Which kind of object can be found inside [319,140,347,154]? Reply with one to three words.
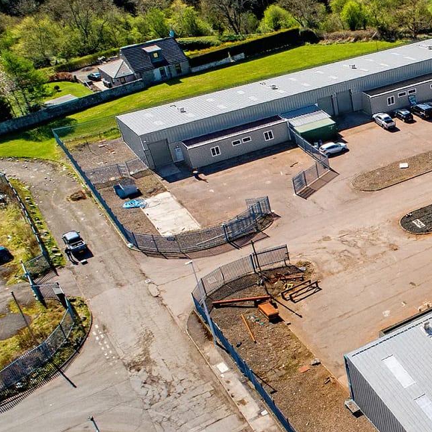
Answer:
vehicle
